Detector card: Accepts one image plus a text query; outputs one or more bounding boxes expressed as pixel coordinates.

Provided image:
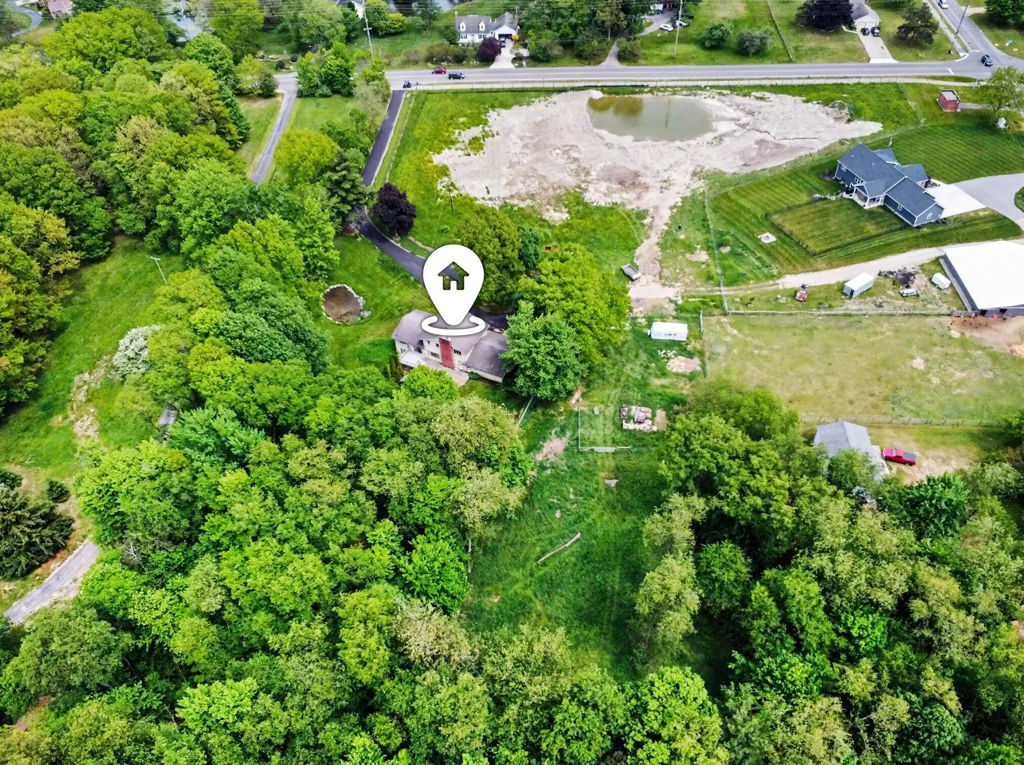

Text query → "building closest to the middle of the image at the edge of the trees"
[390,298,519,386]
